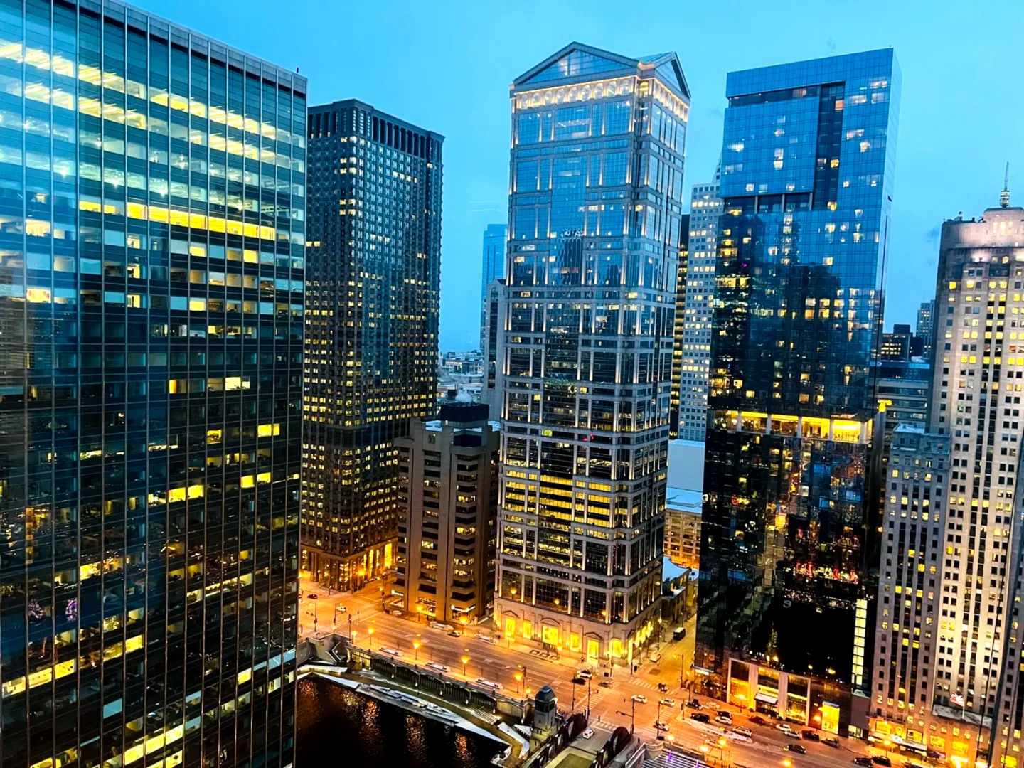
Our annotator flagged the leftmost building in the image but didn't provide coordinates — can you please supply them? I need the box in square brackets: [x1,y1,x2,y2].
[0,0,312,768]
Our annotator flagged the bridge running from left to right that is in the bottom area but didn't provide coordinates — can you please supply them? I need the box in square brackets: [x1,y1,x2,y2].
[513,711,647,768]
